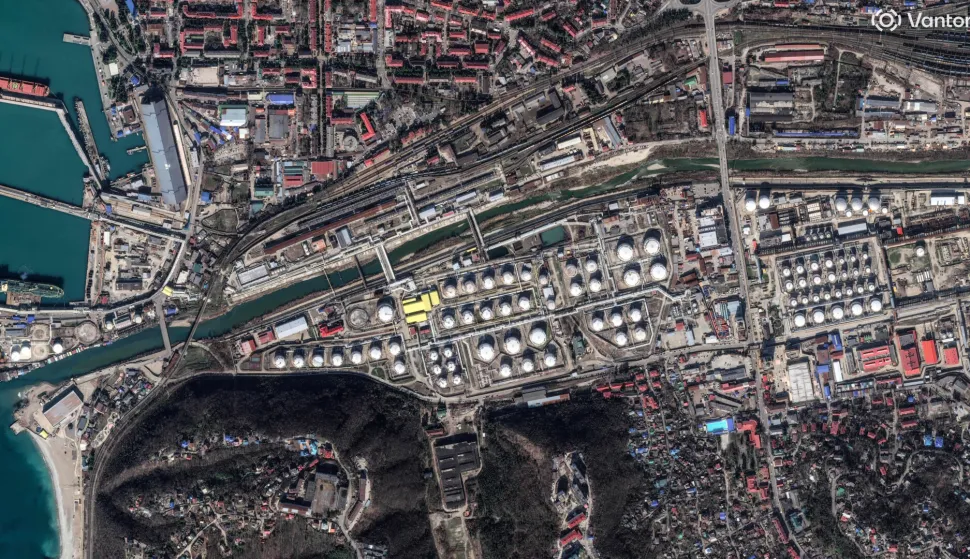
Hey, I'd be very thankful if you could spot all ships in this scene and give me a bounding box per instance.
[0,281,64,298]
[0,77,49,95]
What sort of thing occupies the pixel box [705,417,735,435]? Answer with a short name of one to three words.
building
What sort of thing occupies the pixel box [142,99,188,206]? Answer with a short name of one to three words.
building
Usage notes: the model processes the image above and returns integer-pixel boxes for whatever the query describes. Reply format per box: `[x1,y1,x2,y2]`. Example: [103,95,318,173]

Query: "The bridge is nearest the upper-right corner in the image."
[704,0,753,340]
